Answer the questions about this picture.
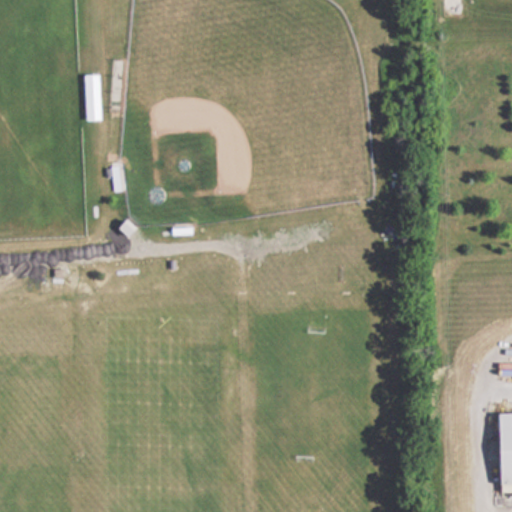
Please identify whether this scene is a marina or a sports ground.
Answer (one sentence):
What you see here is a sports ground.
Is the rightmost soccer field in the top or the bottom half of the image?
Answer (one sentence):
Seen from above, the rightmost soccer field lies in the bottom half of the view.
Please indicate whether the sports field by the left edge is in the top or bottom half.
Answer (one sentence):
The sports field by the left edge is in the top half of the image.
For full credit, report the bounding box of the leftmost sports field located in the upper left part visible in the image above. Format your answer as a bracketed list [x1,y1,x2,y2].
[0,0,86,240]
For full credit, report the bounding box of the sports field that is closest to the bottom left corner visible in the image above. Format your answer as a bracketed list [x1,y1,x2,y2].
[106,316,220,512]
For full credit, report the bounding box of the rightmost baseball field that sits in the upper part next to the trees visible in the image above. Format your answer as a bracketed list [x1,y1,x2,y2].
[122,0,374,226]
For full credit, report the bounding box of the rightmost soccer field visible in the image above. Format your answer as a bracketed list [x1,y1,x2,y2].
[252,311,372,512]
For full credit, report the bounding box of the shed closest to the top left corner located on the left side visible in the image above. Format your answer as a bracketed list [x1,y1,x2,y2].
[84,73,104,122]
